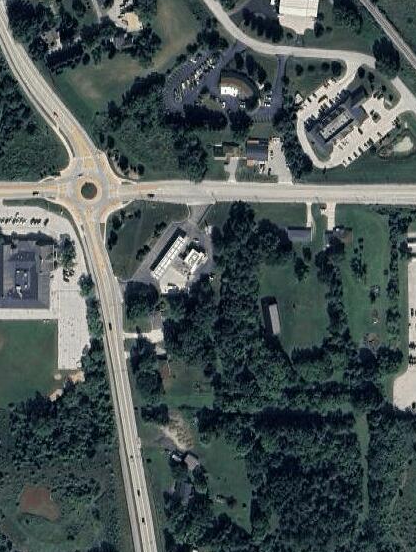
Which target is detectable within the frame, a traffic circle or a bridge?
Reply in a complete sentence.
It is a traffic circle that can be seen here.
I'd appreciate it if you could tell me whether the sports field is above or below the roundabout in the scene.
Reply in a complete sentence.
You can see the sports field below the roundabout in the frame.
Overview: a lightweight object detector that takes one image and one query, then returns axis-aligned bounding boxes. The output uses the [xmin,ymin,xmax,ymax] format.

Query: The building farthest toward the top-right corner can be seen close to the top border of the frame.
[278,0,318,18]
